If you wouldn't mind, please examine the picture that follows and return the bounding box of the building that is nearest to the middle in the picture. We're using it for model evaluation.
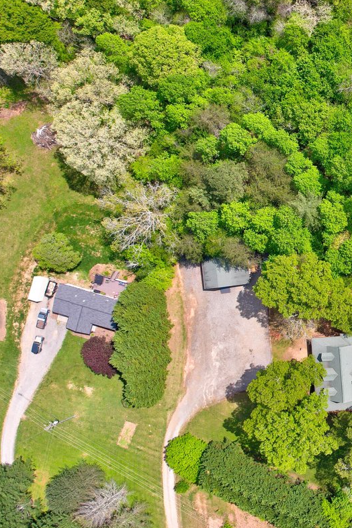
[201,255,251,289]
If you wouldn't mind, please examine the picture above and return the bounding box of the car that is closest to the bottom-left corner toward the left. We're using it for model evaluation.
[32,335,45,354]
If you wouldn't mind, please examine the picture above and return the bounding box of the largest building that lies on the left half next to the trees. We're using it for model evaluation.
[53,282,125,335]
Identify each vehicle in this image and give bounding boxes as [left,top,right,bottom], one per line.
[32,335,45,354]
[37,307,50,330]
[45,280,59,298]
